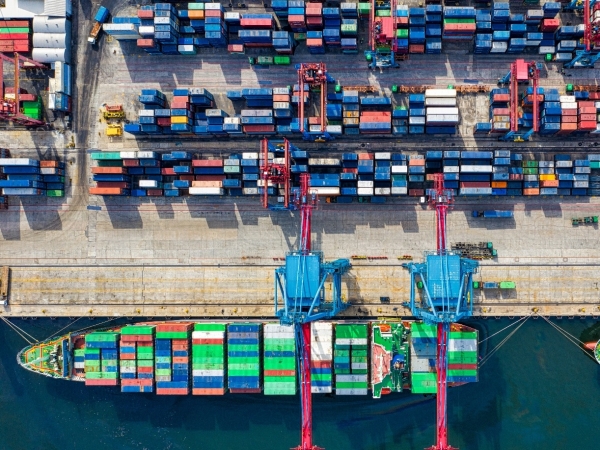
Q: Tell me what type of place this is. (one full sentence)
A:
This looks like a port.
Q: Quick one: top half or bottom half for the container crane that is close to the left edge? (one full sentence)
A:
The container crane that is close to the left edge is in the top half of the image.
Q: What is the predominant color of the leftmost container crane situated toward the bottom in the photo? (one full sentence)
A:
The leftmost container crane situated toward the bottom is blue.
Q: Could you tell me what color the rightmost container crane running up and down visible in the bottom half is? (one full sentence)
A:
The color of the rightmost container crane running up and down visible in the bottom half is blue.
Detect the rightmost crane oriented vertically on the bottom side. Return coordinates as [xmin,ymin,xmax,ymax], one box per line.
[401,173,475,450]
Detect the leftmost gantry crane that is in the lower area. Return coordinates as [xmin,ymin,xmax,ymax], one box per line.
[274,173,352,450]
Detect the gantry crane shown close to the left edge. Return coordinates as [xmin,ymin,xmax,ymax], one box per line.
[0,53,59,128]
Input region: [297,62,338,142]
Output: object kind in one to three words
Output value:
container crane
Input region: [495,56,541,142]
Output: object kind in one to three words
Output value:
container crane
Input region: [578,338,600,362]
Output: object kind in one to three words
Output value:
ship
